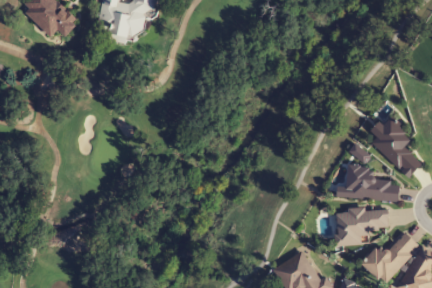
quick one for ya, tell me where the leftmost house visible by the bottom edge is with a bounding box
[274,249,334,288]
